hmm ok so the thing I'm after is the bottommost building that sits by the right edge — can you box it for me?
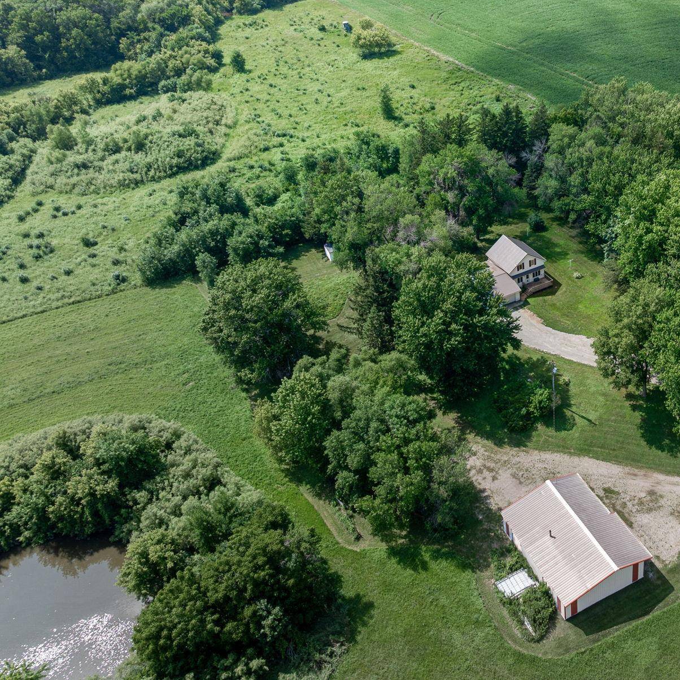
[499,473,653,621]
